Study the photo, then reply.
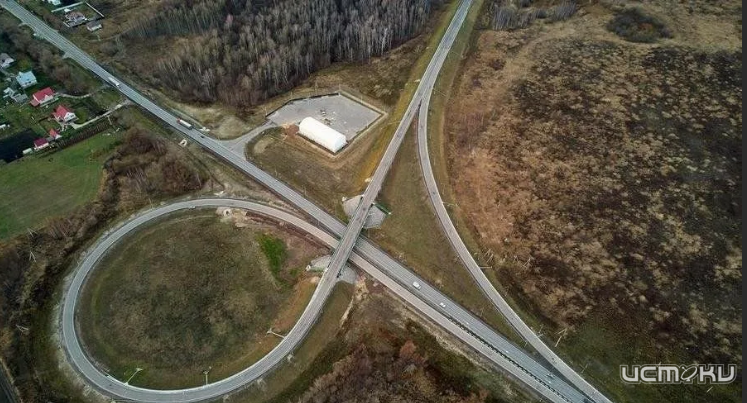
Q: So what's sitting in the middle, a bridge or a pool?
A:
bridge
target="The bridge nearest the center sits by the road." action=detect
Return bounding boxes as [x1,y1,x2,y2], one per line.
[309,197,396,283]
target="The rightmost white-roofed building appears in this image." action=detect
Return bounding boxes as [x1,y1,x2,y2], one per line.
[297,117,350,153]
